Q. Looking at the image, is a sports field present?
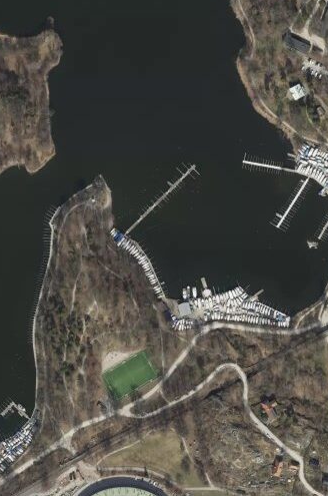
Yes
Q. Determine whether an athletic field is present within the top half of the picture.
No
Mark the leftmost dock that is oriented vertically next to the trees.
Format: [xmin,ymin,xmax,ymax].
[30,208,61,414]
